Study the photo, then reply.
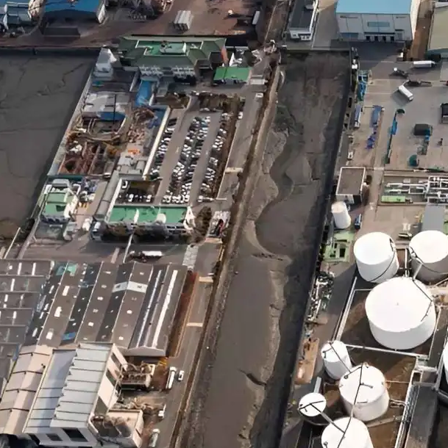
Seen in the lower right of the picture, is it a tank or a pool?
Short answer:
tank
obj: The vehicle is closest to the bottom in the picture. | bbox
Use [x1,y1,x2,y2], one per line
[147,428,160,447]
